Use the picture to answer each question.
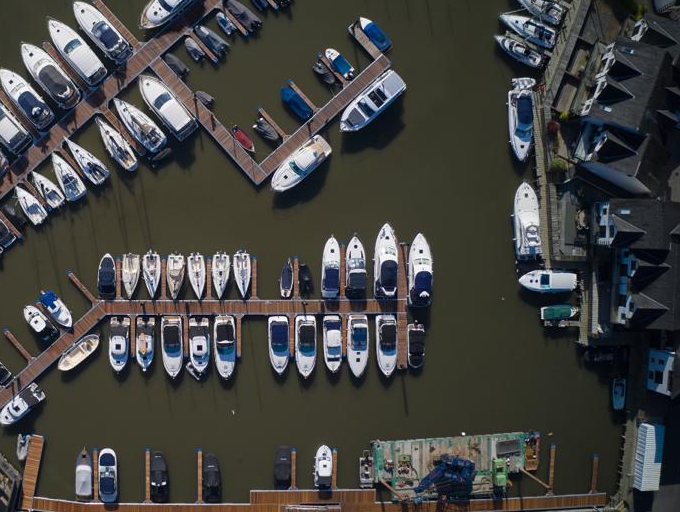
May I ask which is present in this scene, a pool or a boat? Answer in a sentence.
Of the two, only a boat appears.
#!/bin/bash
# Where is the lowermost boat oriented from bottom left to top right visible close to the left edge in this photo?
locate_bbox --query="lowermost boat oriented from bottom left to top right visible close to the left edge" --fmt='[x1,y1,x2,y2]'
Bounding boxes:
[0,381,52,424]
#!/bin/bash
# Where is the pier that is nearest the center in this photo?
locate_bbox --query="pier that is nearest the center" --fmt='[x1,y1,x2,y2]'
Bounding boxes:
[336,242,350,301]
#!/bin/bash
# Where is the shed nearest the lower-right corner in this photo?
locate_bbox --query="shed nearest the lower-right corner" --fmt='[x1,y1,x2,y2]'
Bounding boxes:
[632,425,668,495]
